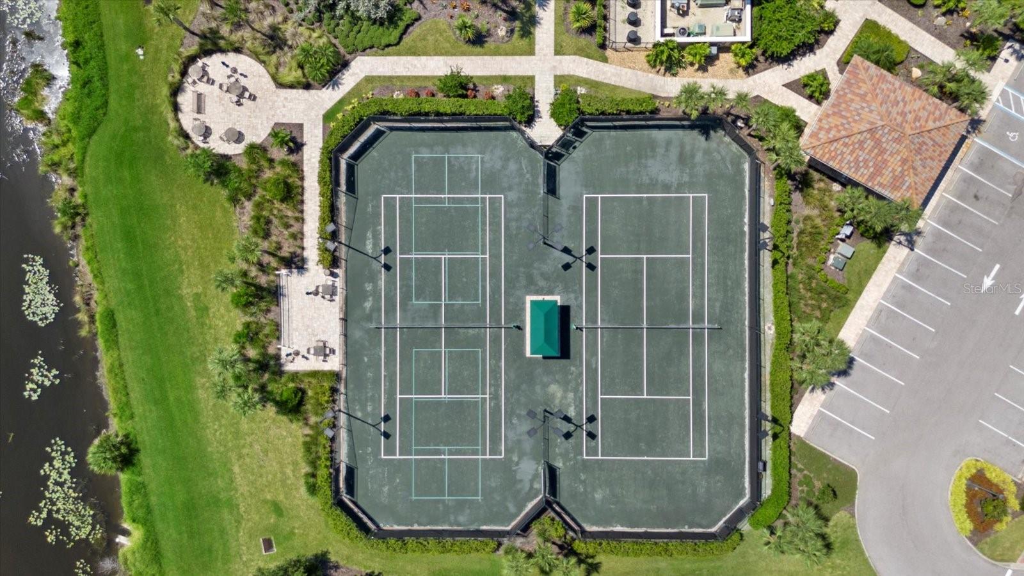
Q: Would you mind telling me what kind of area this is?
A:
sports ground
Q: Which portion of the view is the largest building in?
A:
top right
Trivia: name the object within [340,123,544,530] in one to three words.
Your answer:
tennis court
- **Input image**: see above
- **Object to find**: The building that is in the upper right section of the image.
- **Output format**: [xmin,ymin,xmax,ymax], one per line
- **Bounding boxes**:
[793,54,971,211]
